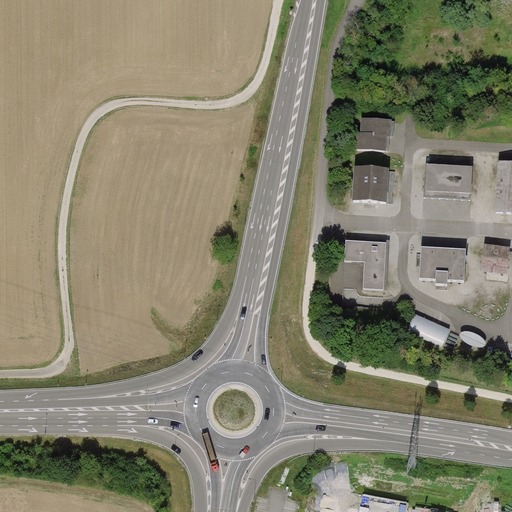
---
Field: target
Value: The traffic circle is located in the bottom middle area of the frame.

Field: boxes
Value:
[184,359,286,460]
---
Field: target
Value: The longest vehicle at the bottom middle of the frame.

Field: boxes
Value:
[202,432,218,471]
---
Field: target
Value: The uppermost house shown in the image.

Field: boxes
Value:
[356,118,394,154]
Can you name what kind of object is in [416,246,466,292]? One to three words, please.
house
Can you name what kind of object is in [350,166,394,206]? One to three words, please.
house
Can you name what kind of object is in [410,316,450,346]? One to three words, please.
building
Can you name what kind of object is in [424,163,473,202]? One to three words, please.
building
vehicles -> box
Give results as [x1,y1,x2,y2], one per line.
[316,426,326,431]
[194,398,198,408]
[241,308,246,319]
[240,446,250,457]
[264,408,270,420]
[148,419,158,424]
[170,422,180,428]
[202,432,218,471]
[261,354,266,364]
[192,350,203,360]
[170,444,182,454]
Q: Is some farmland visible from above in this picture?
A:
Yes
